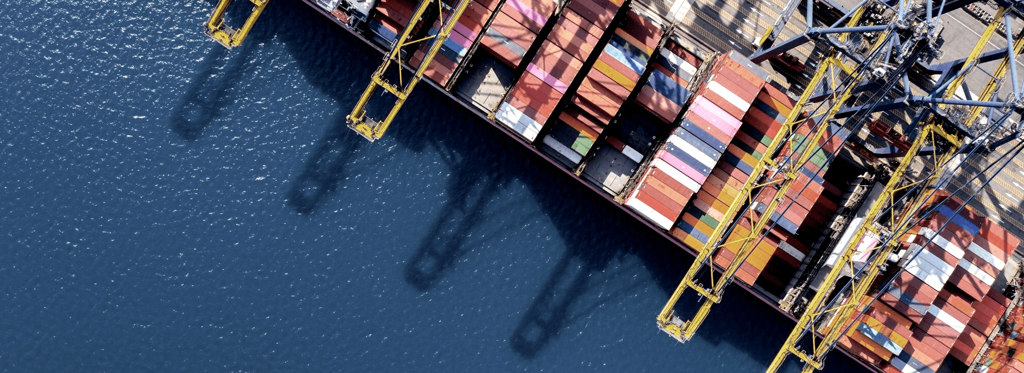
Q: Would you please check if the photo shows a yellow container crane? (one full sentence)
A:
Yes, the image includes a yellow container crane.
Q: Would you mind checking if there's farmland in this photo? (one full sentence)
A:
No, there is no farmland in the image.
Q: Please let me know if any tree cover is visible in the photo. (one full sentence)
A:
No, no tree cover is visible.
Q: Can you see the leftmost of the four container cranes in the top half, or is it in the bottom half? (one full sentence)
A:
It is in the top half that the leftmost of the four container cranes appears.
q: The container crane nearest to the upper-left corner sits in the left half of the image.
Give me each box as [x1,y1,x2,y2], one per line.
[202,0,270,55]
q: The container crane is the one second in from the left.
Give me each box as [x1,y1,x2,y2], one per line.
[346,0,473,144]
